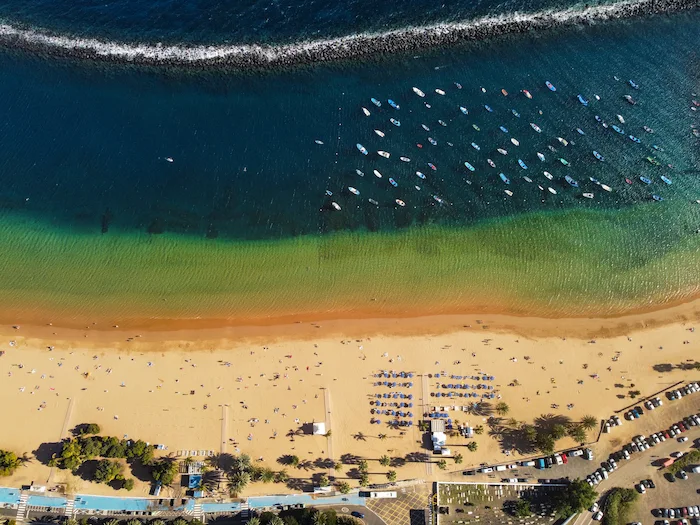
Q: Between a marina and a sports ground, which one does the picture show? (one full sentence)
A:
The area seen from above is a marina.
